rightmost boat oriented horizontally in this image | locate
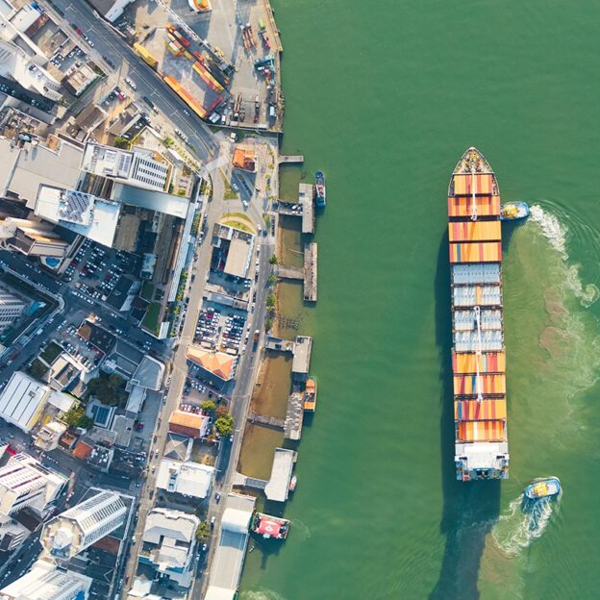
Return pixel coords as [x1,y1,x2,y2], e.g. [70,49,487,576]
[524,477,563,500]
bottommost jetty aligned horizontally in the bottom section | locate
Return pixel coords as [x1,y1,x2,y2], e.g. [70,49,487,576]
[249,414,285,428]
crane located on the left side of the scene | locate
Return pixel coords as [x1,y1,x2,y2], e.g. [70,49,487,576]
[159,0,242,83]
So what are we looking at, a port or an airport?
port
